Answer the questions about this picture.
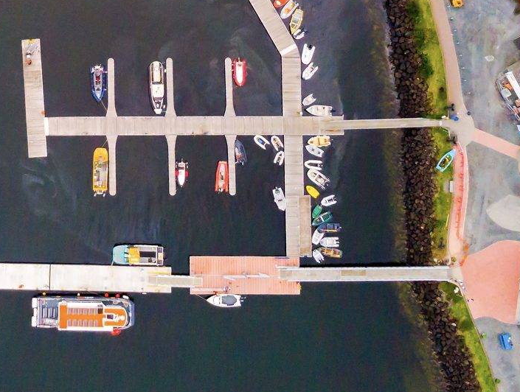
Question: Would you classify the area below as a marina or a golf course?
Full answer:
This looks like a marina.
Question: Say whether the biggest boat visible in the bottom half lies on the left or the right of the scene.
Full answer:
You can find the biggest boat visible in the bottom half on the left side of the picture.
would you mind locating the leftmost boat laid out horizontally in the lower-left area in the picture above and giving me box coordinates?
[29,294,134,334]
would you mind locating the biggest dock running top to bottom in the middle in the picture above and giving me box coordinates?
[281,57,303,257]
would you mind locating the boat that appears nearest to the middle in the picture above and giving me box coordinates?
[272,186,286,211]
